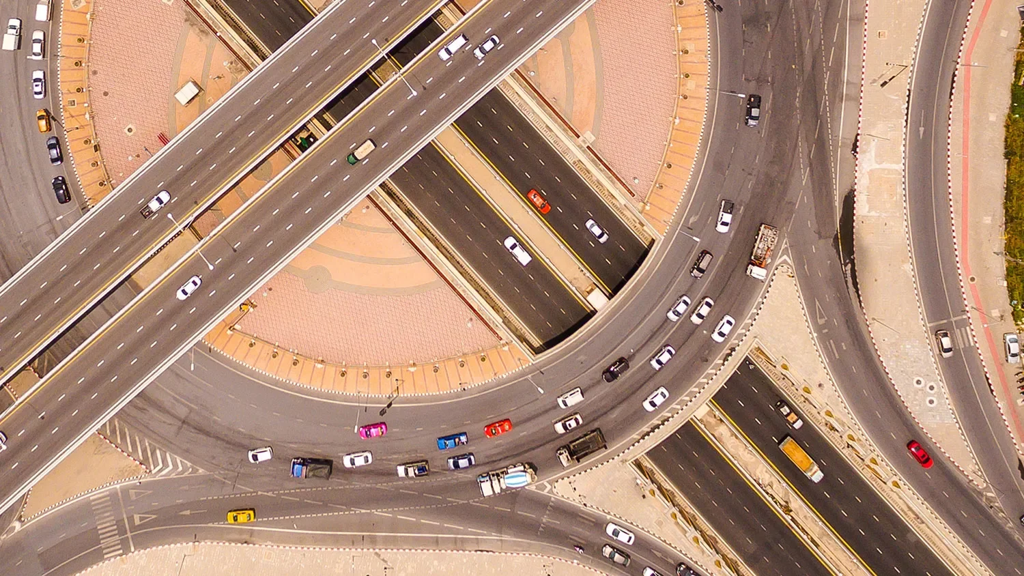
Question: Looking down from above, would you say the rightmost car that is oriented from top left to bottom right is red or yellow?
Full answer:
The rightmost car that is oriented from top left to bottom right is red.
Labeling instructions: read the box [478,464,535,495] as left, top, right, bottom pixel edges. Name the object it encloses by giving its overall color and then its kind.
white truck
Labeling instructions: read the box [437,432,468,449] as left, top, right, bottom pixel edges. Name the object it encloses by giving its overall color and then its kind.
blue vehicle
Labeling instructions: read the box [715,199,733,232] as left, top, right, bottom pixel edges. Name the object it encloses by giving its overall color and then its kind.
white vehicle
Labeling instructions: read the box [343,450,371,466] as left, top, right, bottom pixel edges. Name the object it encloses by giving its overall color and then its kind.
white car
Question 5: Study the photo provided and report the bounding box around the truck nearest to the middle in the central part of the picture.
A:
[504,236,531,265]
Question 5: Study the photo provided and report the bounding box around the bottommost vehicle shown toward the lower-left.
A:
[227,508,255,523]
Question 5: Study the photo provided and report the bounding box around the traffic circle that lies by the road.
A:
[57,0,711,397]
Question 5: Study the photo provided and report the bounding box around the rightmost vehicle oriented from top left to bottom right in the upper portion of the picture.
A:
[584,218,607,242]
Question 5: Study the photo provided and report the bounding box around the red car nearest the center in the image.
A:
[526,188,550,213]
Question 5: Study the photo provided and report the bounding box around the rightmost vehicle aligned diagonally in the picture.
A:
[907,440,931,467]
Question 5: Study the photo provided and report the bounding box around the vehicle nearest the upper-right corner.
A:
[745,94,760,126]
